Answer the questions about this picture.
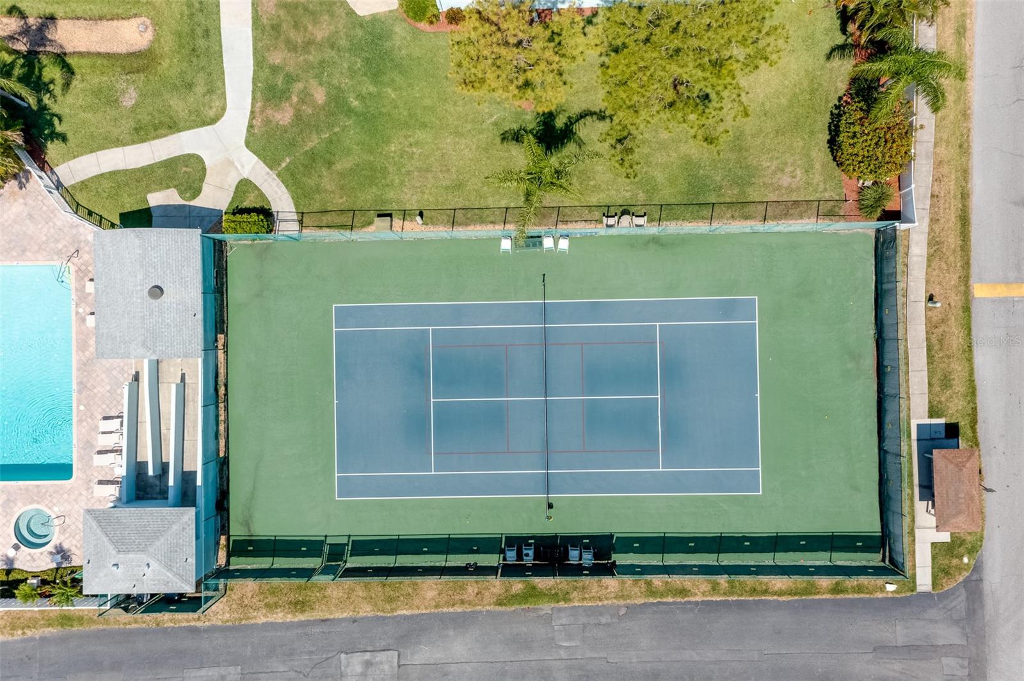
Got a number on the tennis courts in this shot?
1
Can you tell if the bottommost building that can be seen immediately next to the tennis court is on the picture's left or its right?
left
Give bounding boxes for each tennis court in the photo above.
[228,230,881,565]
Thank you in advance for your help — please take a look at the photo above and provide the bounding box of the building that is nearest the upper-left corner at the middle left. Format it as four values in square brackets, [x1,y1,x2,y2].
[93,227,216,359]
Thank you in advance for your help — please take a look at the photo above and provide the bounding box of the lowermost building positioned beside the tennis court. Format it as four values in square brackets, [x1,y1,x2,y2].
[83,502,203,595]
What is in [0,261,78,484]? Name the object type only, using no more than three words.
swimming pool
